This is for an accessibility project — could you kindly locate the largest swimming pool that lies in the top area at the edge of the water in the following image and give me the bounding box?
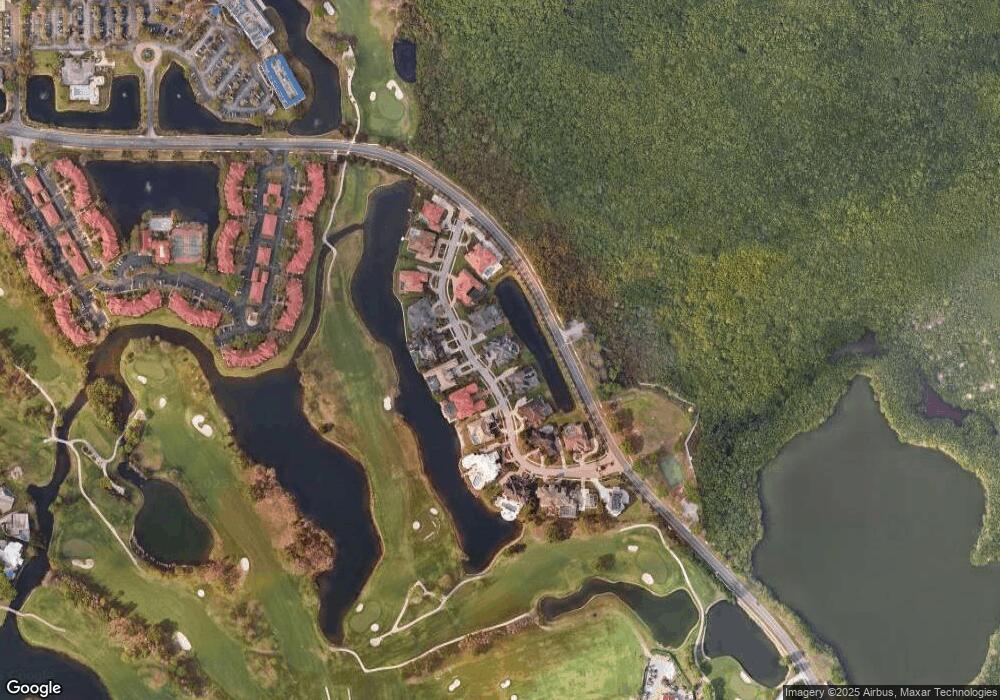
[148,216,172,231]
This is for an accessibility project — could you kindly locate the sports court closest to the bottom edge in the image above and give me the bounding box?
[661,456,684,490]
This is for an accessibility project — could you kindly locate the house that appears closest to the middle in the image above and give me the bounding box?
[479,337,521,364]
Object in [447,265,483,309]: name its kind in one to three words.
house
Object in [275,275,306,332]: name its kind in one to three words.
building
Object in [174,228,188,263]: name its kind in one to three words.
tennis court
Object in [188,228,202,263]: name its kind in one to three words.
tennis court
